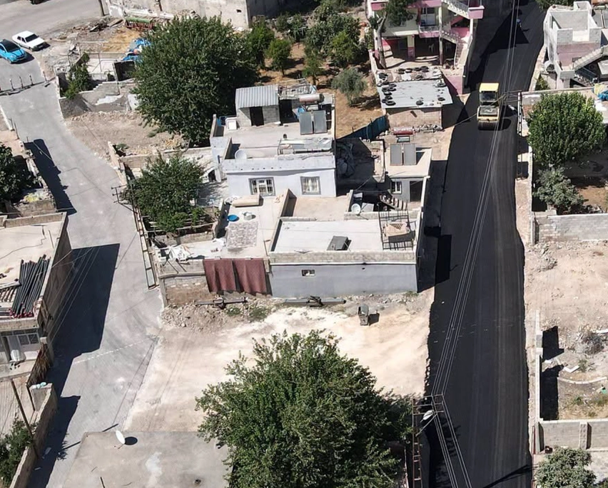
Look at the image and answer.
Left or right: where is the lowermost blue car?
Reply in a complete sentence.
The lowermost blue car sits on the left side.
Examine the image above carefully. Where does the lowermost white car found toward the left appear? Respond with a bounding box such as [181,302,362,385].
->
[10,29,45,51]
